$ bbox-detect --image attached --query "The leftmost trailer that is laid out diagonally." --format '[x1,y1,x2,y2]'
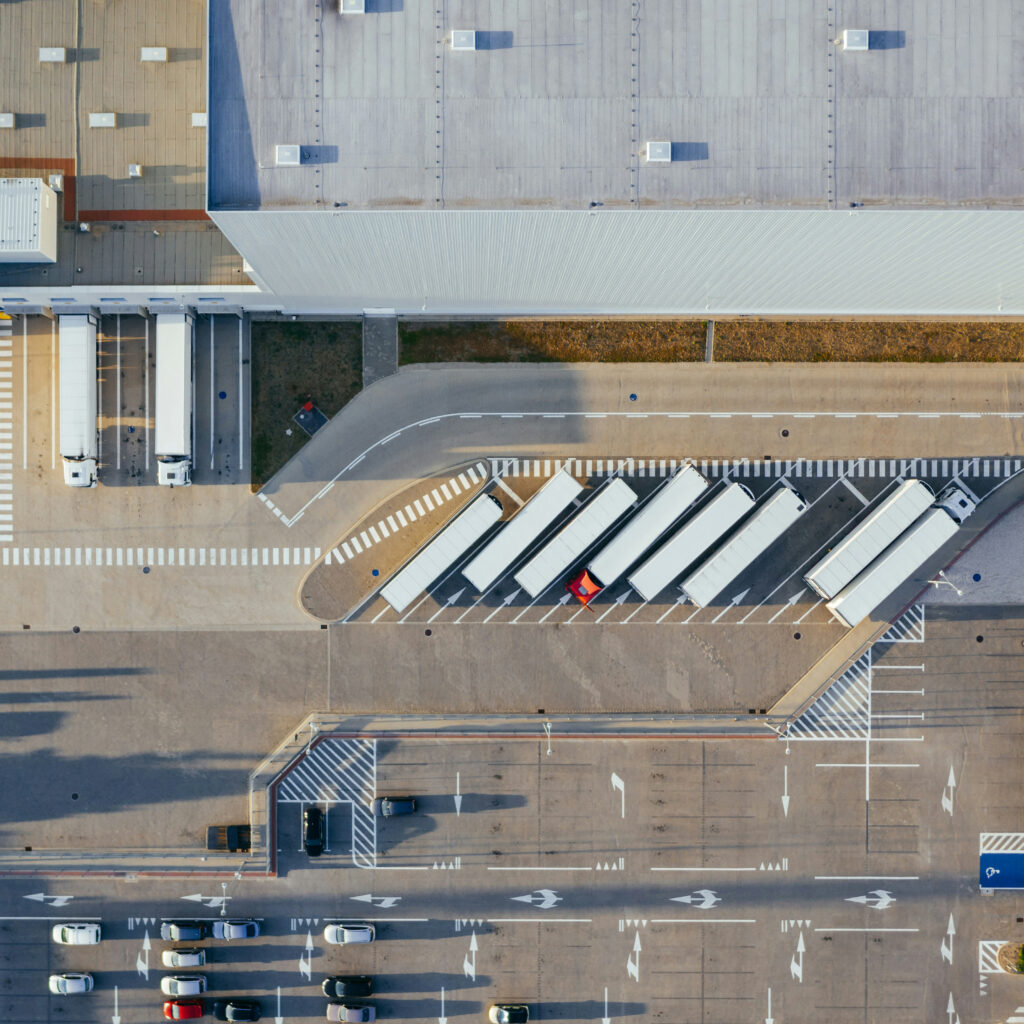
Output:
[381,492,502,612]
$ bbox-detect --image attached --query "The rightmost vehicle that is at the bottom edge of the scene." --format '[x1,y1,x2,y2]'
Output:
[489,1001,530,1024]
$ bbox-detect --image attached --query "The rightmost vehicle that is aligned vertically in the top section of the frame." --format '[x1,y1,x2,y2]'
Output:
[157,315,194,486]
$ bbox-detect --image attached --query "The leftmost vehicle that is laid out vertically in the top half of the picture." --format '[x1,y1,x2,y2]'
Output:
[60,315,101,488]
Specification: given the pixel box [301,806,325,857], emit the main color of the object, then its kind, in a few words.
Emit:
black car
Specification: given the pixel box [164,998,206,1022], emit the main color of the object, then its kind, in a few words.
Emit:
red car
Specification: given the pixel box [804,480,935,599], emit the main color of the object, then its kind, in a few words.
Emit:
white trailer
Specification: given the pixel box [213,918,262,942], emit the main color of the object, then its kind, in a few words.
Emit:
blue car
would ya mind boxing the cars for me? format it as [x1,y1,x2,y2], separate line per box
[213,918,262,942]
[161,973,208,998]
[327,1001,376,1024]
[50,972,96,996]
[214,999,263,1023]
[54,921,103,945]
[325,922,375,946]
[163,947,207,970]
[489,1001,530,1024]
[162,919,208,943]
[164,998,206,1022]
[323,975,373,999]
[370,795,416,818]
[301,806,325,857]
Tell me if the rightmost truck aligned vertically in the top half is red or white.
white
